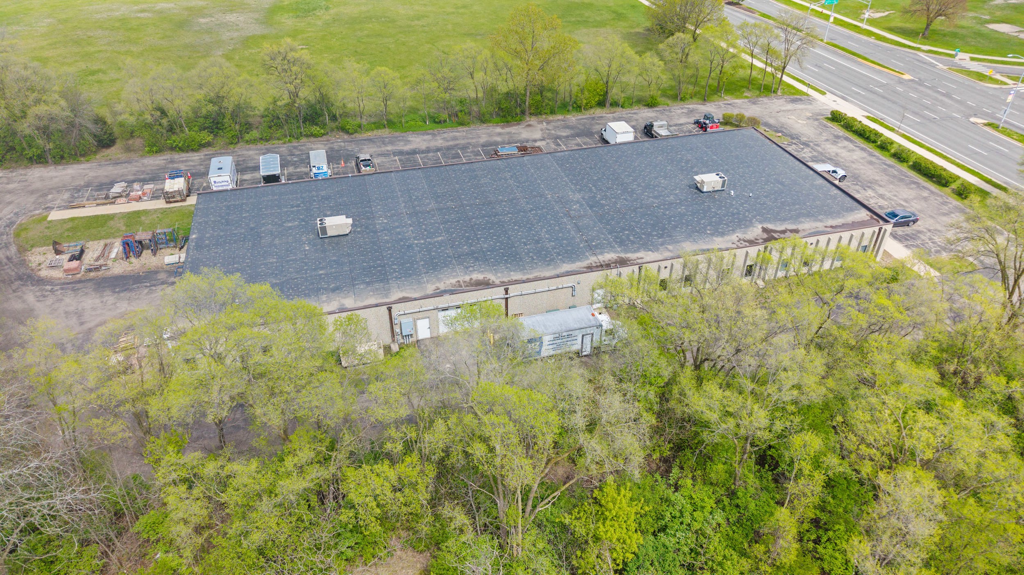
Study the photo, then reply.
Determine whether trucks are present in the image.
Yes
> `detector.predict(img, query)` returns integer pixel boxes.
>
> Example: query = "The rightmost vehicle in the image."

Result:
[883,208,922,227]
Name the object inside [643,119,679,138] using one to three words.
vehicle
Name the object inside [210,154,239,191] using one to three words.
trailer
